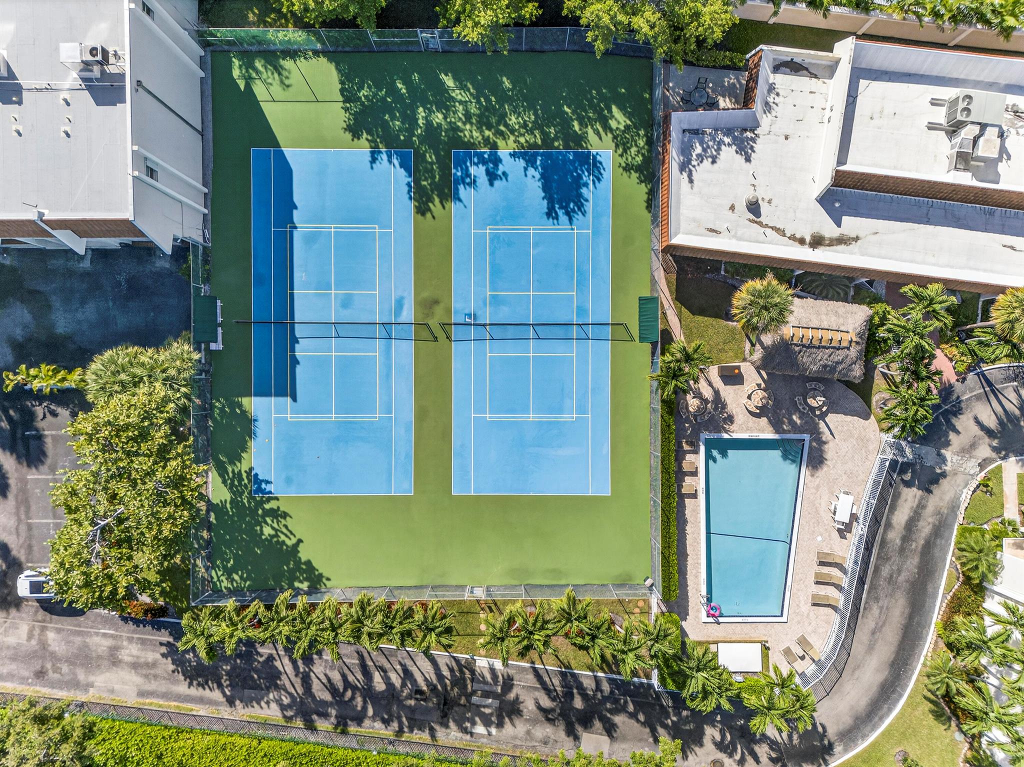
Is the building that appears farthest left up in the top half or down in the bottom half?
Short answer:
top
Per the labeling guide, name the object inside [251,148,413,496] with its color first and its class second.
blue tennis court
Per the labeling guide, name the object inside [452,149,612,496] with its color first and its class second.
blue tennis court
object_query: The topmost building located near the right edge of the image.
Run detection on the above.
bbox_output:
[661,36,1024,298]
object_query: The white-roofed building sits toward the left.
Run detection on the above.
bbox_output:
[0,0,212,254]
